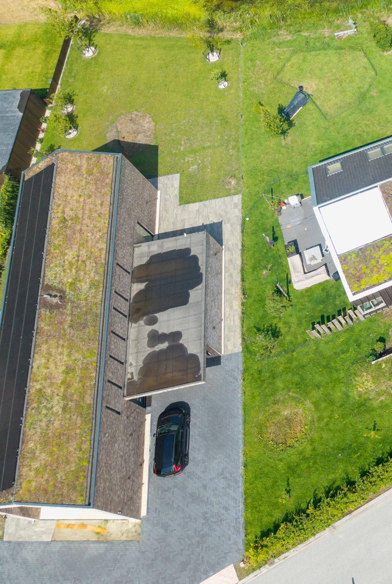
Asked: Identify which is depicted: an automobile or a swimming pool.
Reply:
automobile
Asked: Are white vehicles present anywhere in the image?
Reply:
No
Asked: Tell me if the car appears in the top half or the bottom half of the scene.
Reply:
bottom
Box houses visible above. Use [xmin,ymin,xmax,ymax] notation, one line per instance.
[0,152,227,546]
[309,137,392,311]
